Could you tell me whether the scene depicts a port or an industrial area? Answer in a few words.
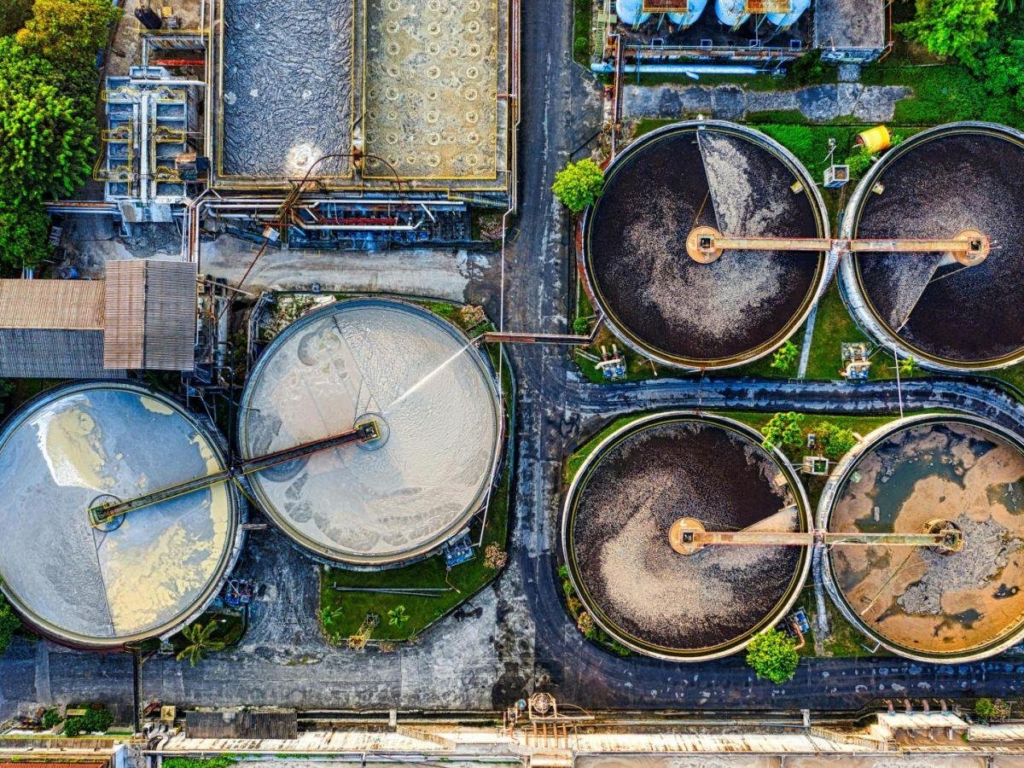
industrial area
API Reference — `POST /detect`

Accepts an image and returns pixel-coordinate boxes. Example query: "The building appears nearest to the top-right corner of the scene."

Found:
[805,0,885,69]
